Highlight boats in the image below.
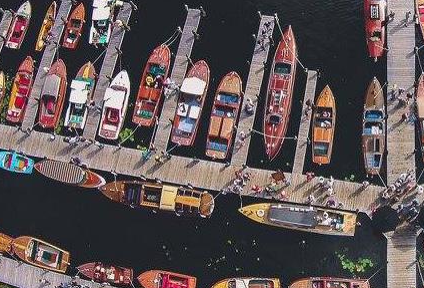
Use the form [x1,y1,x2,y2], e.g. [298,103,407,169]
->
[11,237,72,272]
[211,276,280,288]
[75,260,133,288]
[306,84,337,173]
[62,2,86,50]
[65,61,111,130]
[205,70,243,162]
[416,0,424,50]
[37,1,57,51]
[0,70,7,114]
[98,175,222,215]
[412,51,424,184]
[89,0,115,46]
[362,0,387,65]
[291,268,386,288]
[168,57,213,155]
[6,0,31,50]
[99,52,130,142]
[118,30,178,147]
[5,56,34,123]
[35,58,68,130]
[363,77,387,186]
[246,16,306,161]
[33,159,107,190]
[0,231,22,262]
[136,269,198,288]
[238,199,360,236]
[0,150,36,175]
